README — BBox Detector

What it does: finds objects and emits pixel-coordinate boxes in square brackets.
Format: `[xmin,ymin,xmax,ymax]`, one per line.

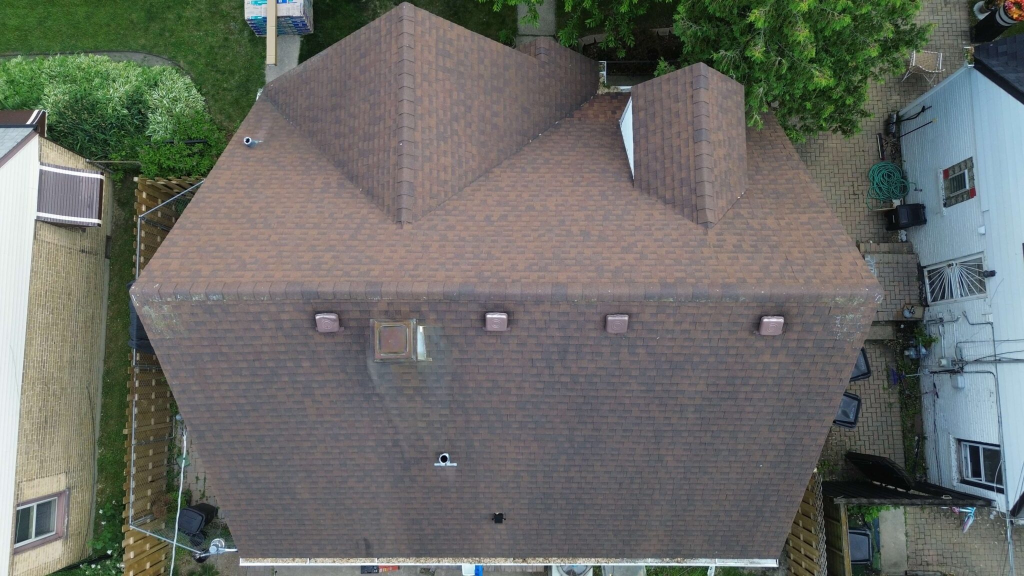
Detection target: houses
[129,0,884,567]
[0,108,121,576]
[900,29,1024,530]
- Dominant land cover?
buildings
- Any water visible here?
No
